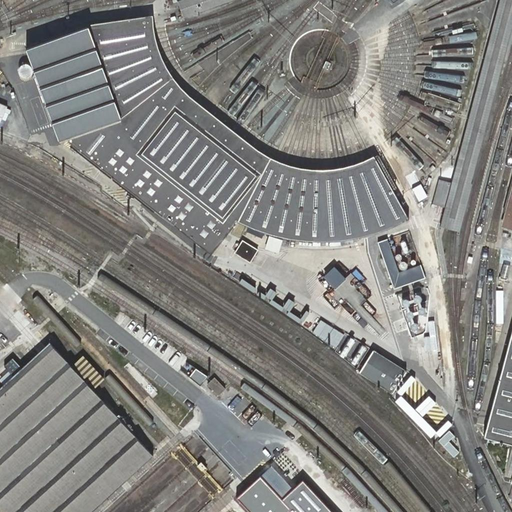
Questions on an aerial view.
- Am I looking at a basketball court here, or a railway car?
railway car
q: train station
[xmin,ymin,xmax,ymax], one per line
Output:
[94,272,402,512]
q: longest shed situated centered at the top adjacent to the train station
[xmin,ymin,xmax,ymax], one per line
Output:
[70,16,408,254]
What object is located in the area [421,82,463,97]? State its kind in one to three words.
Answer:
rail car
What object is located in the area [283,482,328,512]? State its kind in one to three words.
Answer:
building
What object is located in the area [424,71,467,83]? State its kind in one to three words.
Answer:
rail car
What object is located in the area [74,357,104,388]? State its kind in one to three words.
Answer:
shed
